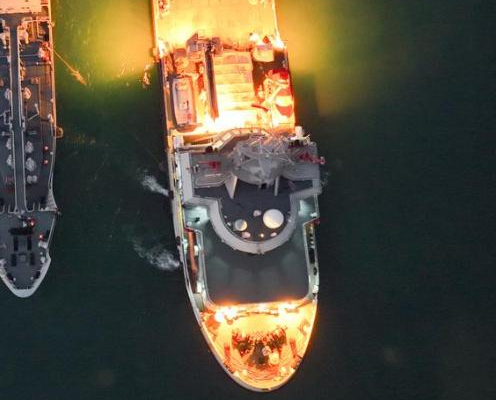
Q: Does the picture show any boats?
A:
Yes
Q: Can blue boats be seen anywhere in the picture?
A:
No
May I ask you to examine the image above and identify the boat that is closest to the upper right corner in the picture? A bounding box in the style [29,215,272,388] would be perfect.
[271,68,295,115]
